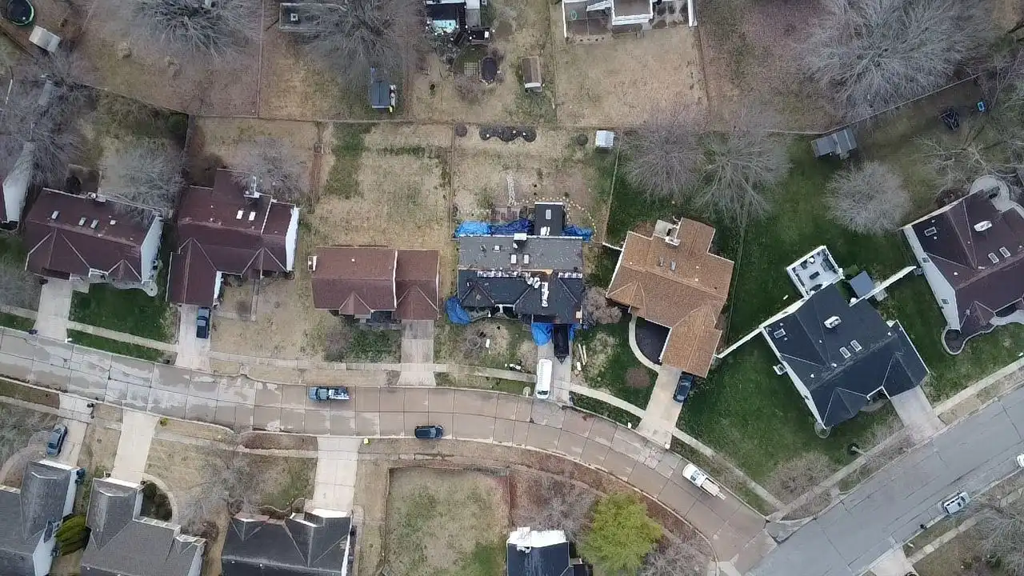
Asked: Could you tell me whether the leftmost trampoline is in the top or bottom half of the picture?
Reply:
top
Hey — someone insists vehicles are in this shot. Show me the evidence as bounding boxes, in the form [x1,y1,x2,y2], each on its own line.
[904,571,917,576]
[672,372,692,402]
[195,306,213,339]
[415,425,443,439]
[310,386,351,401]
[535,358,552,399]
[939,490,970,516]
[45,423,69,457]
[682,465,720,496]
[1013,450,1024,466]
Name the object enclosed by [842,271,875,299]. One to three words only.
shed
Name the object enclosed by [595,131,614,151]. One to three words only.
shed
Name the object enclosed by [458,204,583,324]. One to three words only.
house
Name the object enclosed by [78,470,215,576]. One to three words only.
house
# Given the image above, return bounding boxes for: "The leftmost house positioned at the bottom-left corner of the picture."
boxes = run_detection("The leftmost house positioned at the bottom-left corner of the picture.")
[0,456,81,576]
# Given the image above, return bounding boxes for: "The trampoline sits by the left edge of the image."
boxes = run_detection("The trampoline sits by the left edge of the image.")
[2,0,38,26]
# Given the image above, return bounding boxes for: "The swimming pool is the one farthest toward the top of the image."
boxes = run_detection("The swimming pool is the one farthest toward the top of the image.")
[433,20,457,37]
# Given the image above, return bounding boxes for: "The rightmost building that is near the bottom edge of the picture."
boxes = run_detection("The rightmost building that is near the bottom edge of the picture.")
[506,527,590,576]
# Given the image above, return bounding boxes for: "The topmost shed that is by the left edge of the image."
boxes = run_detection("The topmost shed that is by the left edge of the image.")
[29,26,63,53]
